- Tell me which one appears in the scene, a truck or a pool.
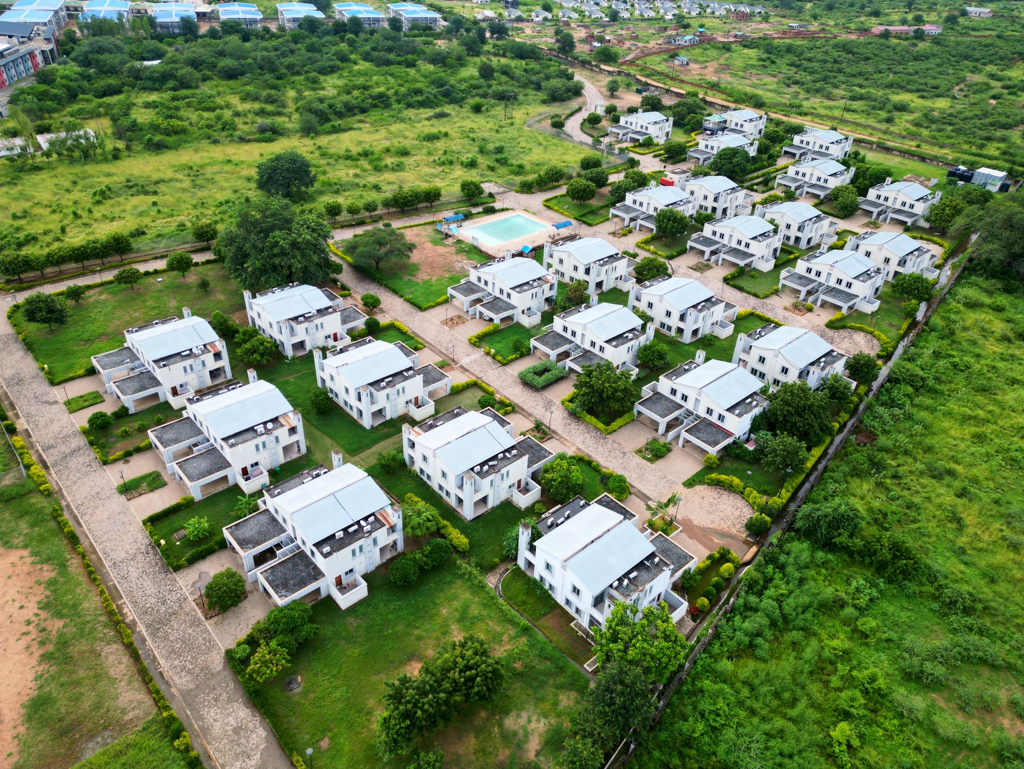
pool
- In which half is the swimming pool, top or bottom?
top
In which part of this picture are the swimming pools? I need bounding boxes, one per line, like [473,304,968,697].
[434,209,580,259]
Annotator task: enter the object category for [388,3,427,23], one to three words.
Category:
building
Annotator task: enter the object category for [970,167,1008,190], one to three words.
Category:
building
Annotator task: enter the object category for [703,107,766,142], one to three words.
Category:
house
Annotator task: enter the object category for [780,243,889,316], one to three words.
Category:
house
